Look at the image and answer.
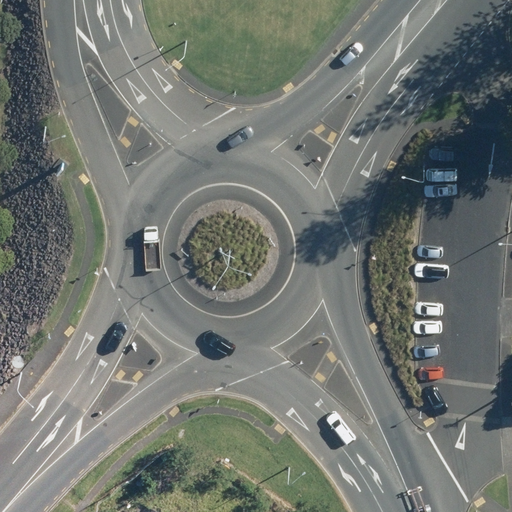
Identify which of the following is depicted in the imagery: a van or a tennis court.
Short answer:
van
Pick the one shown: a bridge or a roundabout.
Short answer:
roundabout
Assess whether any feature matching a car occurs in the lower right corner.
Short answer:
Yes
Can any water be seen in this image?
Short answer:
No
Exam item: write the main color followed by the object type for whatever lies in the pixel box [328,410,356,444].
white van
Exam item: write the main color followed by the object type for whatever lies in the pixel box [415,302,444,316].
white car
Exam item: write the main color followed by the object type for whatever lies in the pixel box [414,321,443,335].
white car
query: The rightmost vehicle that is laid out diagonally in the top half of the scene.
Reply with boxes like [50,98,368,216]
[338,40,364,68]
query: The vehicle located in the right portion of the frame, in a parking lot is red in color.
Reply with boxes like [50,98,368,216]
[418,367,446,382]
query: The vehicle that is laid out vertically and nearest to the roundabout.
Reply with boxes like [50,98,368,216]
[142,226,160,272]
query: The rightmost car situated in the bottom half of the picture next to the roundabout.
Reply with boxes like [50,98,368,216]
[204,331,237,356]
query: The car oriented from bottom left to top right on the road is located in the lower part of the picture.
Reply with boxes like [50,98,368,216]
[102,322,130,356]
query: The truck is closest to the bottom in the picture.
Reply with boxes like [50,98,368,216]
[408,486,434,512]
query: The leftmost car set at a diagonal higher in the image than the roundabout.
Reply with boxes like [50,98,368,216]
[222,127,256,152]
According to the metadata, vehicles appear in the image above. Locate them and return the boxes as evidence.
[424,386,448,415]
[338,40,364,68]
[425,183,458,198]
[414,321,443,335]
[426,168,458,182]
[408,486,434,512]
[142,226,160,272]
[414,264,450,278]
[102,322,130,356]
[417,246,444,259]
[204,331,237,356]
[415,302,444,316]
[222,127,256,152]
[418,367,446,382]
[328,410,356,444]
[414,345,440,360]
[428,148,455,162]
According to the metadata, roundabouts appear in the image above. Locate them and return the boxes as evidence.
[161,182,298,319]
